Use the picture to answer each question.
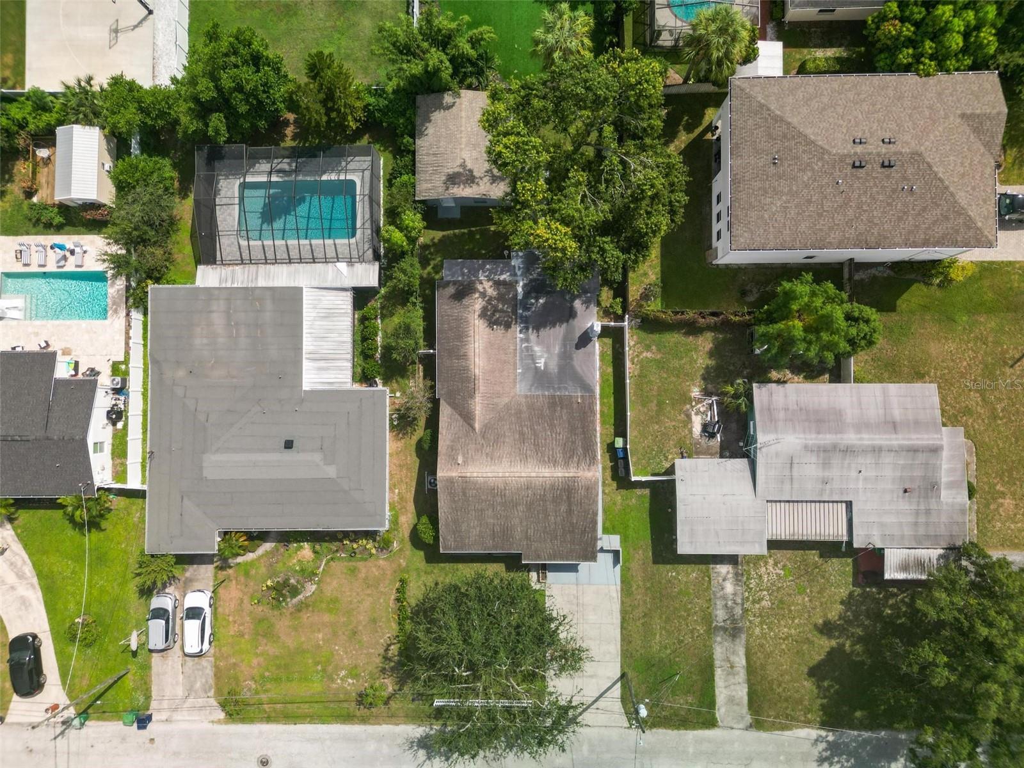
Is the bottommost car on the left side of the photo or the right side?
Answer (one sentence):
The bottommost car sits on the left side.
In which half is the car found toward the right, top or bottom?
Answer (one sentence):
You can find the car found toward the right in the top half.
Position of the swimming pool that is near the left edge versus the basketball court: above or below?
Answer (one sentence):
The swimming pool that is near the left edge is located below the basketball court in this view.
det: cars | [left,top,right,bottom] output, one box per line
[179,589,212,654]
[142,593,176,653]
[1,631,43,698]
[999,188,1024,218]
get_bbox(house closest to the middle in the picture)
[436,250,600,563]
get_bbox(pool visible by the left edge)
[0,267,111,324]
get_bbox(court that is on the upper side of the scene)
[26,0,154,90]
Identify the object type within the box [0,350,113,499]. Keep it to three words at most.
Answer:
house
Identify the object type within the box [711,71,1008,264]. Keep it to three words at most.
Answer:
house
